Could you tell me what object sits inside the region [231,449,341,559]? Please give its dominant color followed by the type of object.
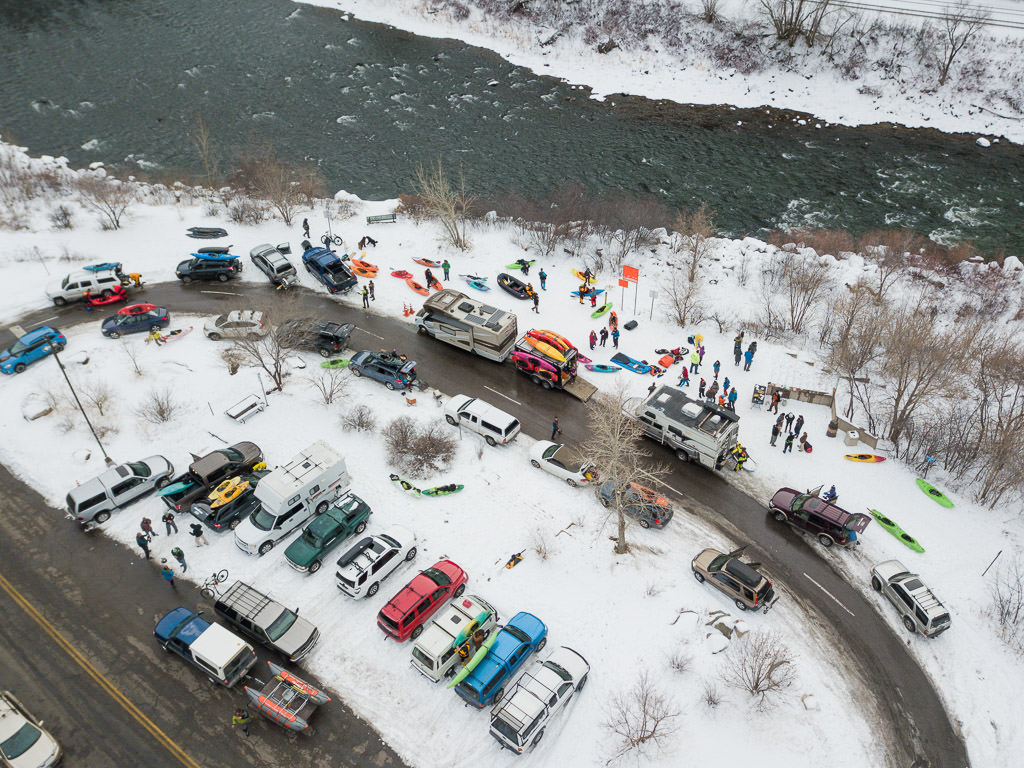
white truck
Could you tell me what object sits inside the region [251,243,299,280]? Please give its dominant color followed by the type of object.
gray car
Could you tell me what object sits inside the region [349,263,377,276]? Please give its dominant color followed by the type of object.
orange boat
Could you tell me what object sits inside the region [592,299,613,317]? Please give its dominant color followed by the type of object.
green boat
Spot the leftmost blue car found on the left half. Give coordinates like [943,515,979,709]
[0,327,70,373]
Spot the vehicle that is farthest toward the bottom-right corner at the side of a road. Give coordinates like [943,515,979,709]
[868,559,962,648]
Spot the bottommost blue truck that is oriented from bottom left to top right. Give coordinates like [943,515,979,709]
[452,612,551,720]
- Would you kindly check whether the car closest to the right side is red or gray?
gray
